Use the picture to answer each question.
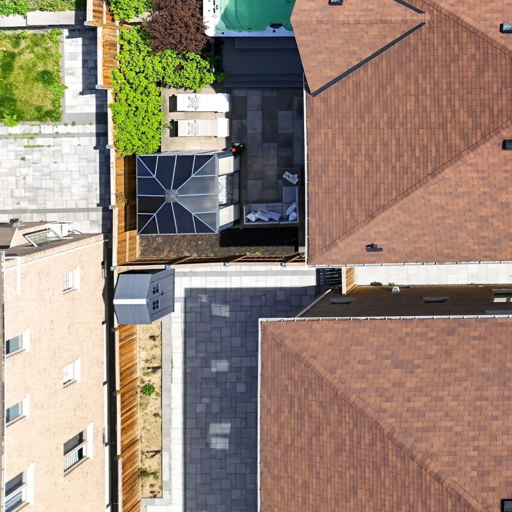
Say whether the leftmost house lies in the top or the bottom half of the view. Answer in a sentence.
The leftmost house is in the bottom half of the image.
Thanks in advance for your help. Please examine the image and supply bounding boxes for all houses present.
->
[0,223,117,512]
[291,0,512,267]
[257,279,512,512]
